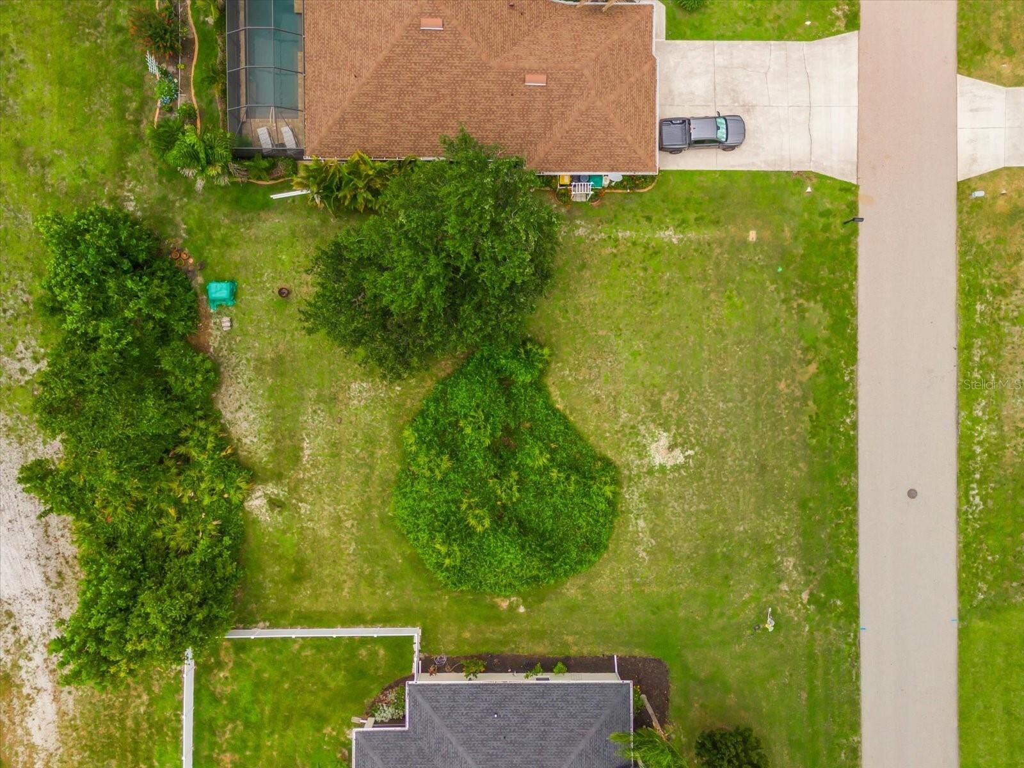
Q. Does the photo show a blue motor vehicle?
No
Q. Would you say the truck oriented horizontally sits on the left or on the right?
right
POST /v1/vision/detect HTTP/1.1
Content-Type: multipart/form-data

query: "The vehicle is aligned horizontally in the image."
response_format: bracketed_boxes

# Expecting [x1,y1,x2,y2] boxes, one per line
[660,113,745,154]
